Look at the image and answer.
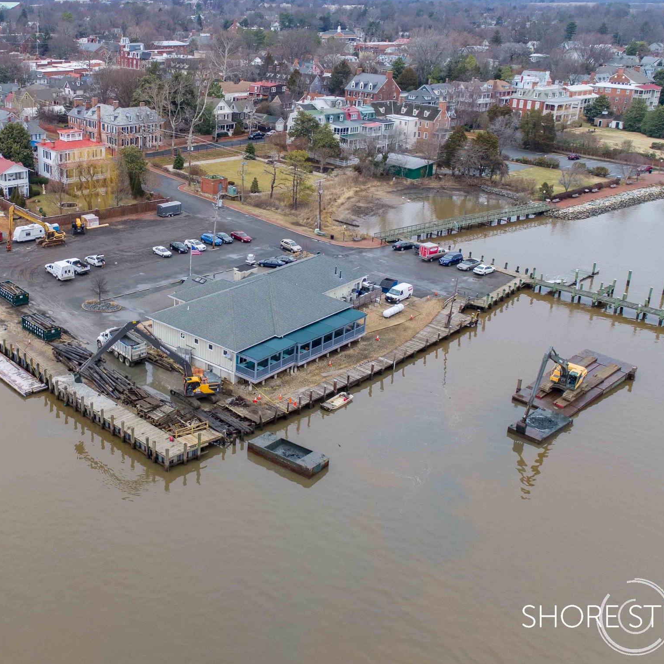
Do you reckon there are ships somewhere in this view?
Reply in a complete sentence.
Yes, you can see a ship in this photo.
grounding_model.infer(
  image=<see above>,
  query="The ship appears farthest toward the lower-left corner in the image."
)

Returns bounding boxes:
[248,433,329,478]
